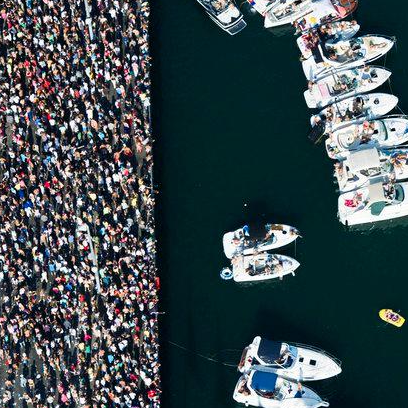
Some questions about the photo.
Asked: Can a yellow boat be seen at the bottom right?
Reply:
Yes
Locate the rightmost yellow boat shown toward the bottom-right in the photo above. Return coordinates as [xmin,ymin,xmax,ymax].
[379,309,404,326]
